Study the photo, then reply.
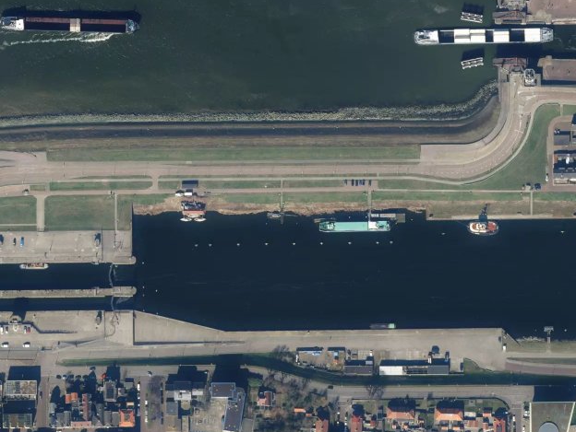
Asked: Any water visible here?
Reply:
Yes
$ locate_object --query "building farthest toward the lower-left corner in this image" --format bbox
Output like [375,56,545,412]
[3,414,33,429]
